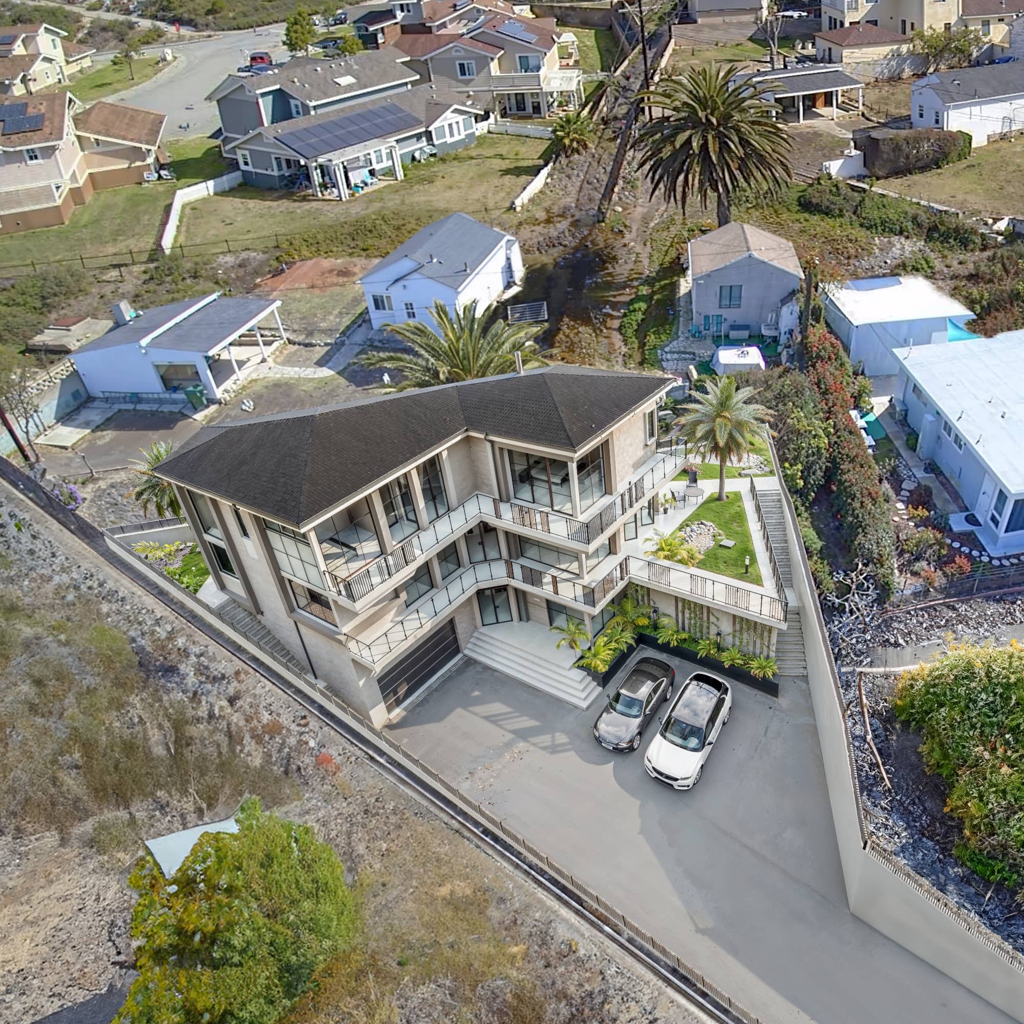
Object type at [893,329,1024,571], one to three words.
house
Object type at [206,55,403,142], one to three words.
house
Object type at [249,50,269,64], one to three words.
car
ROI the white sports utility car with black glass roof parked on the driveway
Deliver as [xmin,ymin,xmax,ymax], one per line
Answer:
[635,674,728,798]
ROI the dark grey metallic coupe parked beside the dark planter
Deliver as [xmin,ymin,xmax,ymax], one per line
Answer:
[585,661,672,759]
